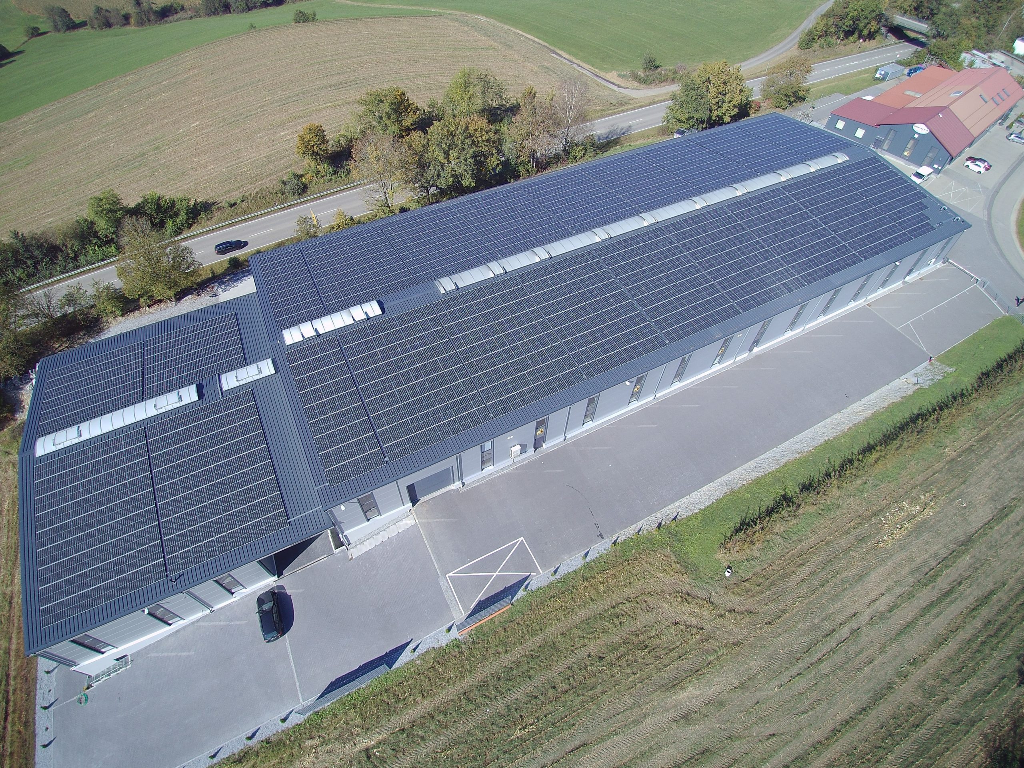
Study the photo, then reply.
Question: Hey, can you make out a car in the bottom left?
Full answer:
Yes, in the bottom left there is a car.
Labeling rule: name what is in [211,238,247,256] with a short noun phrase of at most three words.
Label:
car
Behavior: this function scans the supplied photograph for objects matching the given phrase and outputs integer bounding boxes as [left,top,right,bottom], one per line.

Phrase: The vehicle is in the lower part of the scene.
[254,586,282,643]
